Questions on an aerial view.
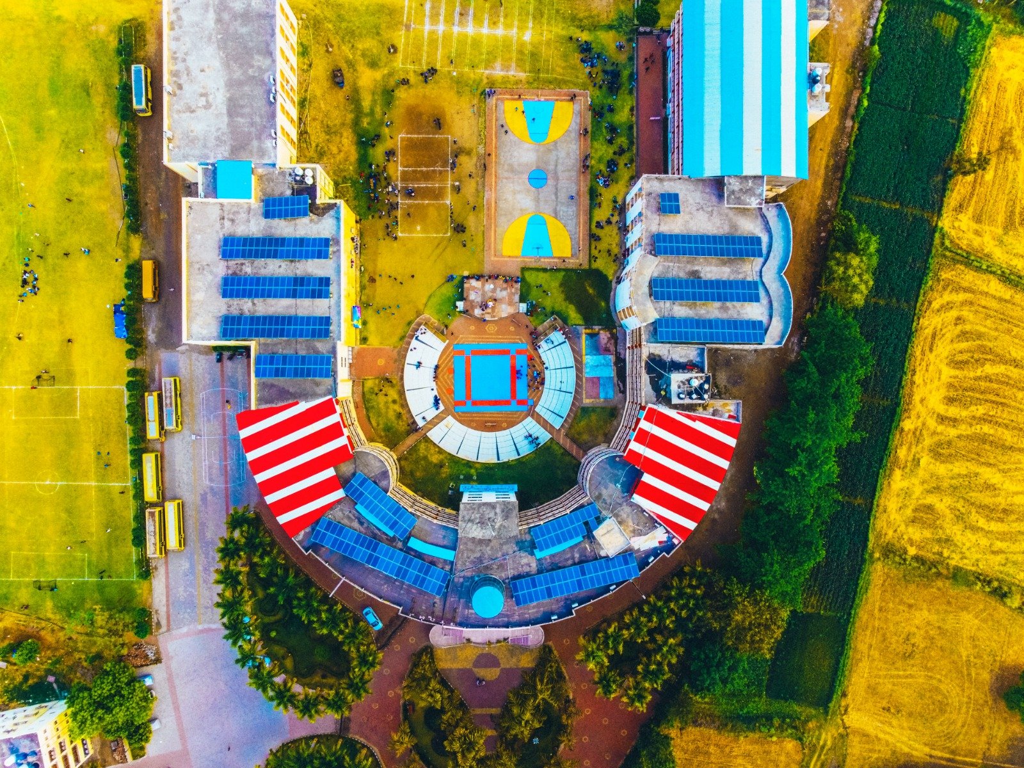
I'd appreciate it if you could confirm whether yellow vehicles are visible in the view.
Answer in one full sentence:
Yes, you can see a yellow vehicle in this photo.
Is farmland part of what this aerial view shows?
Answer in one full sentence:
Yes, there is farmland in the image.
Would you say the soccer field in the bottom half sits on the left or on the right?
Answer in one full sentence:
The soccer field in the bottom half is on the left side of the image.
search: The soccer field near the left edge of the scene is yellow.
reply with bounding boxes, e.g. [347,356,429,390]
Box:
[0,386,137,580]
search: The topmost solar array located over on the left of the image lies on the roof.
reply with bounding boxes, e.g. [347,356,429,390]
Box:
[264,196,309,219]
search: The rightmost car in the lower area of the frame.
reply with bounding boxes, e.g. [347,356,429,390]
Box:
[363,605,381,629]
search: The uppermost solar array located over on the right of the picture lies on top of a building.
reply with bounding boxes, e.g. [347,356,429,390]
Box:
[658,193,680,214]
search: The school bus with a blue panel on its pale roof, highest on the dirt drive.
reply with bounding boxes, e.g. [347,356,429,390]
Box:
[131,65,153,118]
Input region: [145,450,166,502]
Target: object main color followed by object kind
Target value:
yellow bus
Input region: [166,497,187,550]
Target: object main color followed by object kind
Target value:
yellow bus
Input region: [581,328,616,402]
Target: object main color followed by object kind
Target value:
blue sports court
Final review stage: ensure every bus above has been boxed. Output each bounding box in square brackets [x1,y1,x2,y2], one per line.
[166,497,187,550]
[163,376,184,431]
[147,504,168,557]
[142,260,163,303]
[145,450,166,502]
[147,390,168,441]
[131,65,153,118]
